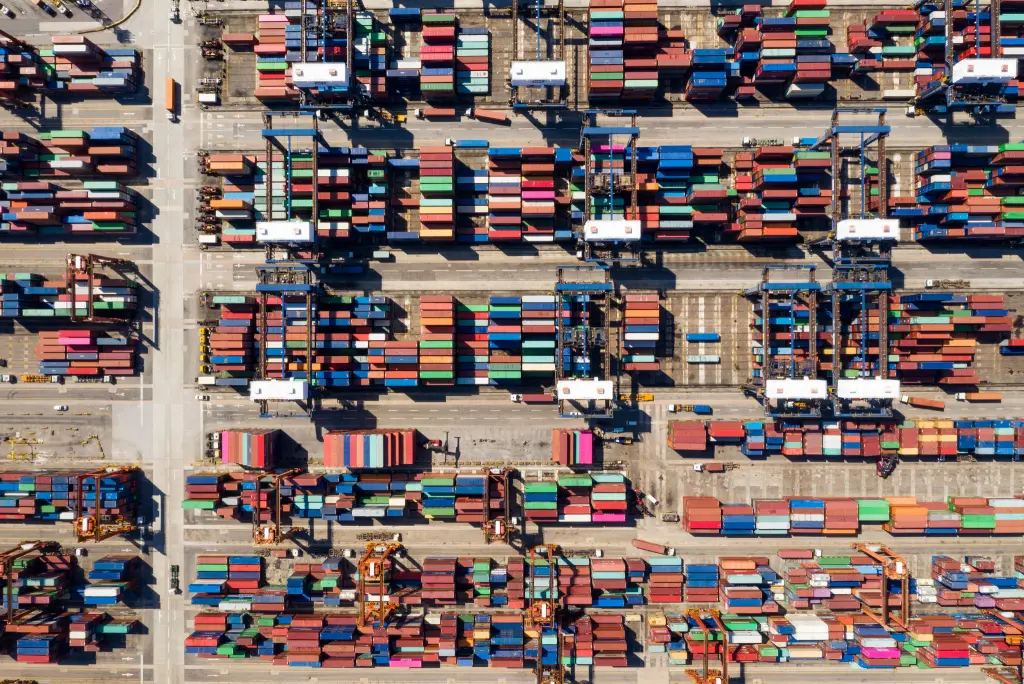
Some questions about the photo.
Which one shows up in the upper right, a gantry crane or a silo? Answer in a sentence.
Looking in the upper right, you will find a gantry crane.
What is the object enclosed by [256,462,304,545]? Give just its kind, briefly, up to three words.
crane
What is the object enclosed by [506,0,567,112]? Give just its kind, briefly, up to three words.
container crane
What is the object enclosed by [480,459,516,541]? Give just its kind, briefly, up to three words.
crane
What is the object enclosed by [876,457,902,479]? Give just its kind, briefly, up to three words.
work vehicle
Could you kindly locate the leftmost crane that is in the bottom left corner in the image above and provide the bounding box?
[0,534,58,624]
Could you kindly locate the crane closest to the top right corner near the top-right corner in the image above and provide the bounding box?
[906,0,1014,109]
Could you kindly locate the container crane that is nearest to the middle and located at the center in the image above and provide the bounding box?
[548,266,614,418]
